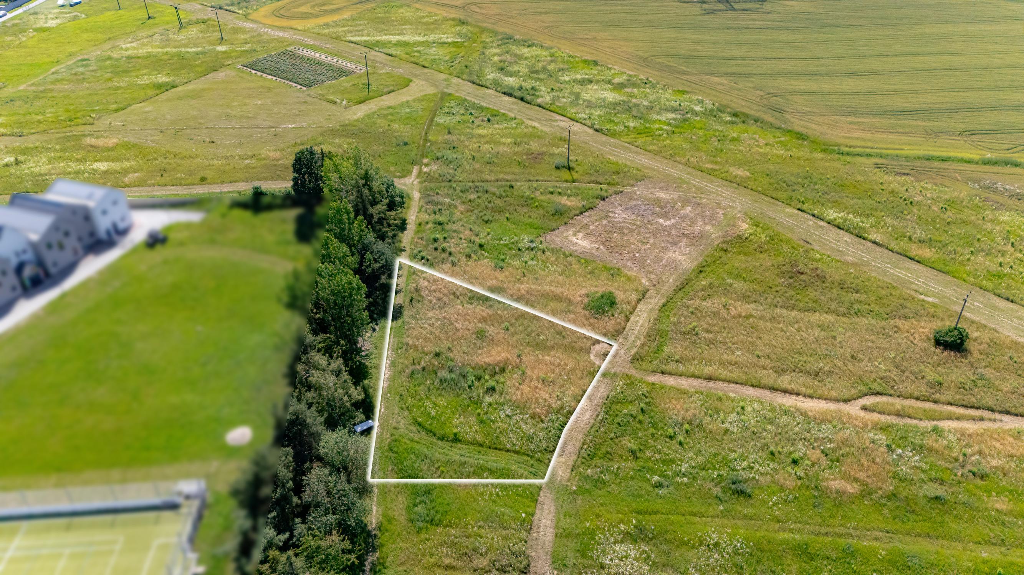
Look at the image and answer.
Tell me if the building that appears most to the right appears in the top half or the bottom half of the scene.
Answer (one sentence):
It is in the bottom half that the building that appears most to the right appears.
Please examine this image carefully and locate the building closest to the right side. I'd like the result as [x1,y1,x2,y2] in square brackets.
[174,477,207,498]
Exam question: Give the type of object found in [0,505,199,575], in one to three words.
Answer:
sports court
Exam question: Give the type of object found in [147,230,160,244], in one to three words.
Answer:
vehicle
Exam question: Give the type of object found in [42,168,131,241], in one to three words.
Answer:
house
